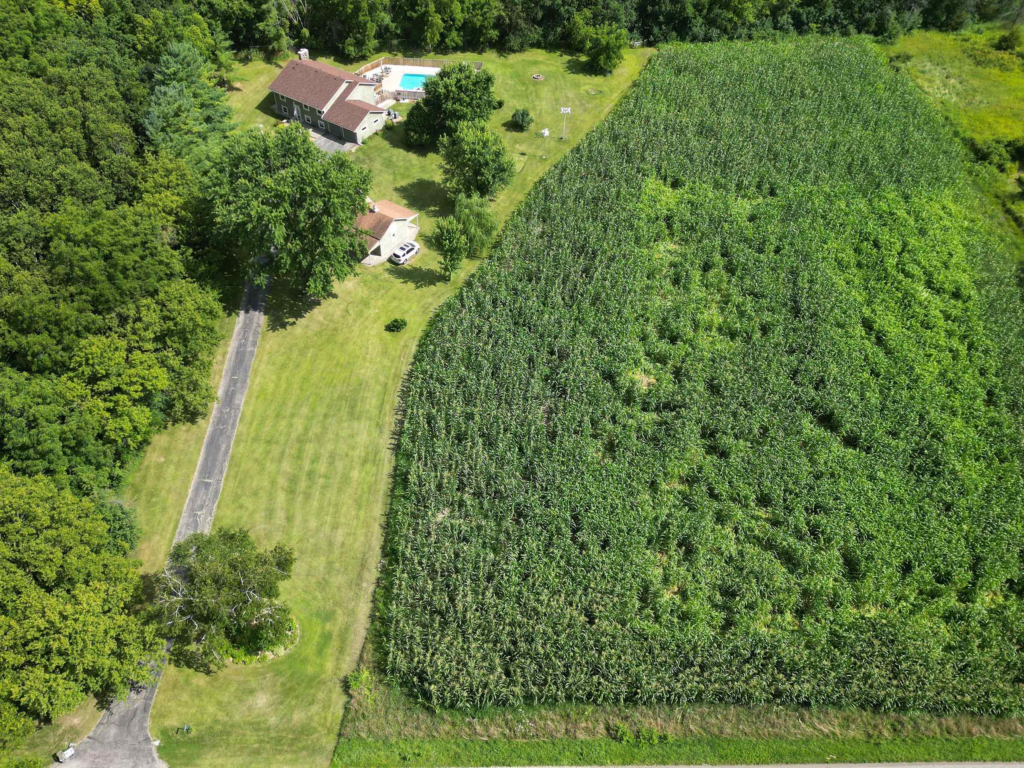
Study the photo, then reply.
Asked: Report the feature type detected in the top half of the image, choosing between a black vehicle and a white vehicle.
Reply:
white vehicle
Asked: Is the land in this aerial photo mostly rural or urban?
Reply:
rural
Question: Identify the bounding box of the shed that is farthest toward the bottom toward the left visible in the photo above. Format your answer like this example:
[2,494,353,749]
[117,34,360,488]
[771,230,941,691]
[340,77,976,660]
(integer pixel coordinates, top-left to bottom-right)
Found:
[341,199,421,265]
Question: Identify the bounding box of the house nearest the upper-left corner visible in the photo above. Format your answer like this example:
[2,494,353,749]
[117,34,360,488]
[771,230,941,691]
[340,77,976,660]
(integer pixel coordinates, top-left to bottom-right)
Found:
[268,45,386,146]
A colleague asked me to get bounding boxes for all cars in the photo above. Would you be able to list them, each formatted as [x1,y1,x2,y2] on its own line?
[390,241,422,265]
